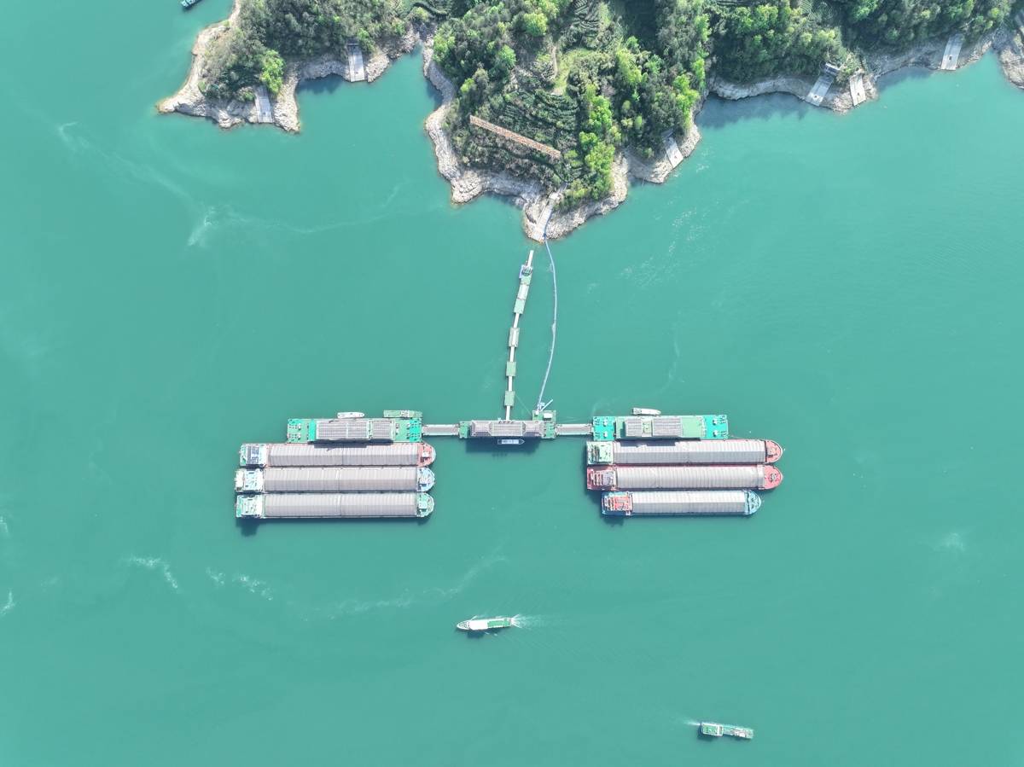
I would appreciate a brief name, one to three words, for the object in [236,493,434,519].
ship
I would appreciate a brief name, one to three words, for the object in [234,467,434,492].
ship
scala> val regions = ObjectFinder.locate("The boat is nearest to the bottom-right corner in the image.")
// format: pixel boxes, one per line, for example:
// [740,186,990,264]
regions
[700,722,754,739]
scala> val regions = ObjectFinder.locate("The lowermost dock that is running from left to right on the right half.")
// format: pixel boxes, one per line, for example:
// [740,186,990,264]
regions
[593,415,729,441]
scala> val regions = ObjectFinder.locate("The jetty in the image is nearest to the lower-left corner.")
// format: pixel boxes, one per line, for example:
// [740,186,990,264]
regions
[287,418,422,443]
